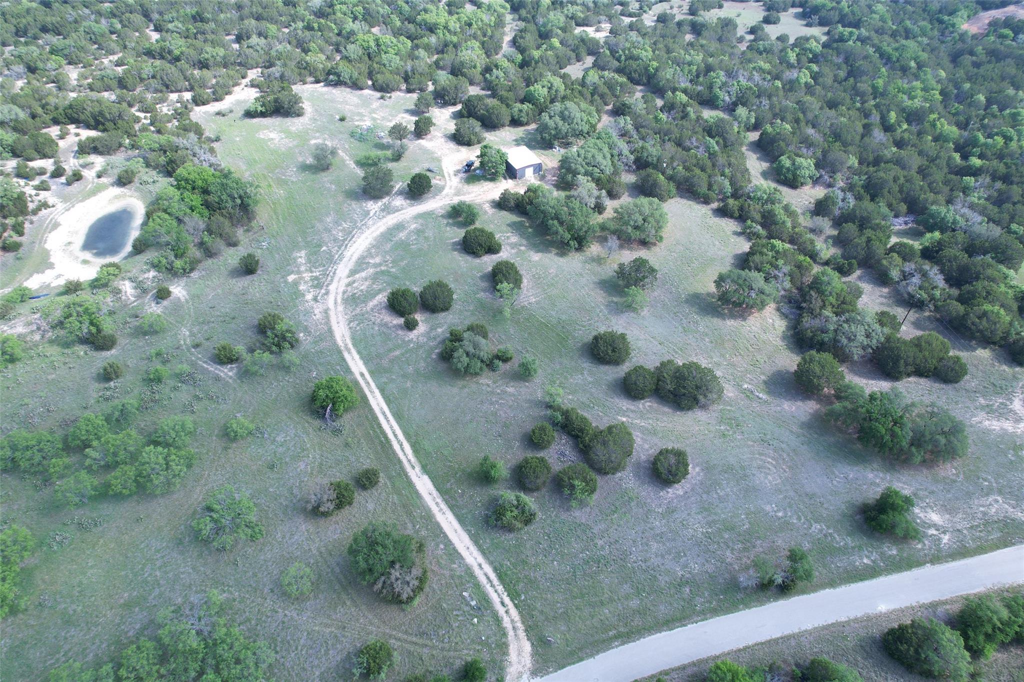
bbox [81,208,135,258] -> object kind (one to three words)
pond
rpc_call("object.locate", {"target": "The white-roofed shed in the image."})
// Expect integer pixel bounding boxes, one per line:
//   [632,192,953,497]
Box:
[501,146,542,178]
